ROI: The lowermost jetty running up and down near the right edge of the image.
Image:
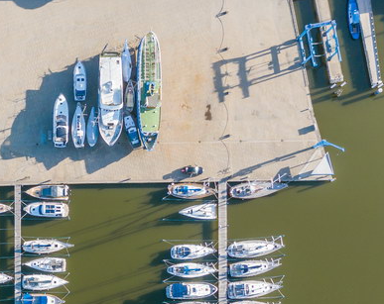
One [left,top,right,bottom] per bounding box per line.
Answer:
[360,12,383,86]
